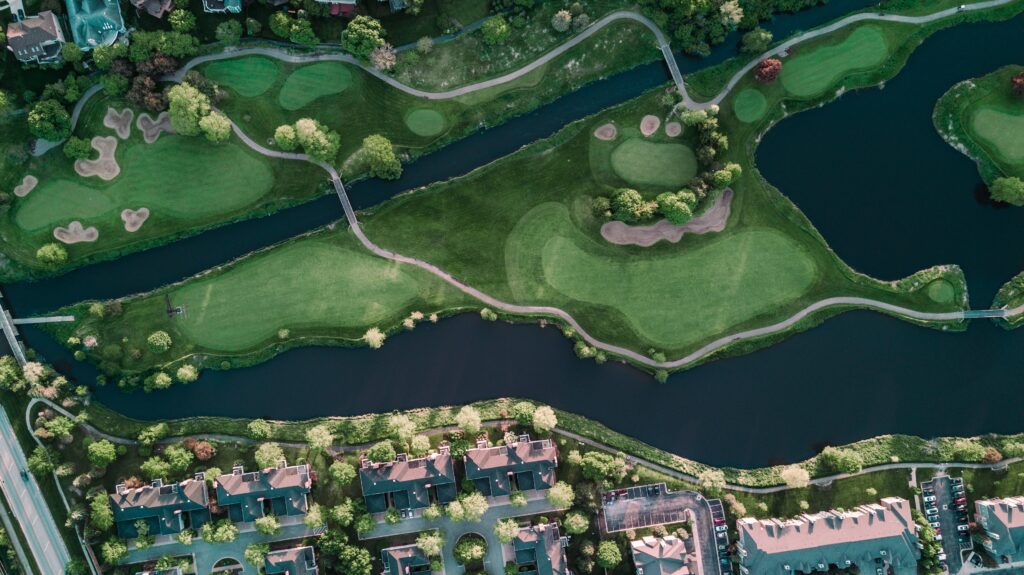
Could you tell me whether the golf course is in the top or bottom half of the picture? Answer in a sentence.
The golf course sits in the top half of the picture.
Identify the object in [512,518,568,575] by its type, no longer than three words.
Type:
house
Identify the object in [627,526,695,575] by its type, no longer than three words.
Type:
building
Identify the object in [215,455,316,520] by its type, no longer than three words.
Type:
house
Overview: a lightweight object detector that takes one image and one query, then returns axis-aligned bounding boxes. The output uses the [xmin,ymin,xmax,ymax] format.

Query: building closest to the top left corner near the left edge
[3,9,66,69]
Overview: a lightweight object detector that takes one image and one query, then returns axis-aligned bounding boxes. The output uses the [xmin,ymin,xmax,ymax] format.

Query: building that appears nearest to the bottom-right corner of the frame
[970,486,1024,554]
